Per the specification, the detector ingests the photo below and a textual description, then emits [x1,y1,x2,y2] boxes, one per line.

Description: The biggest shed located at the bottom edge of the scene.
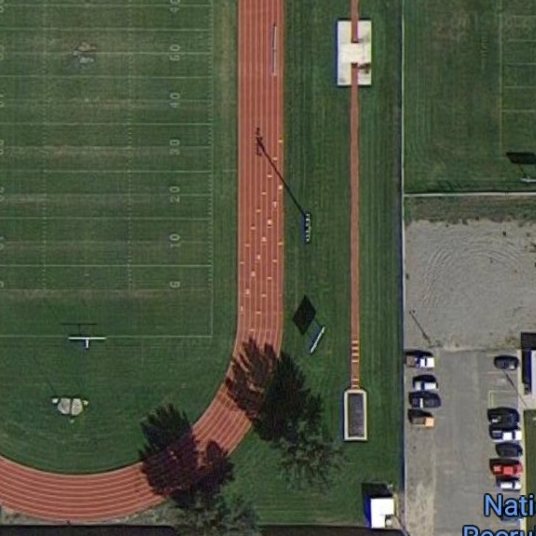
[367,496,395,528]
